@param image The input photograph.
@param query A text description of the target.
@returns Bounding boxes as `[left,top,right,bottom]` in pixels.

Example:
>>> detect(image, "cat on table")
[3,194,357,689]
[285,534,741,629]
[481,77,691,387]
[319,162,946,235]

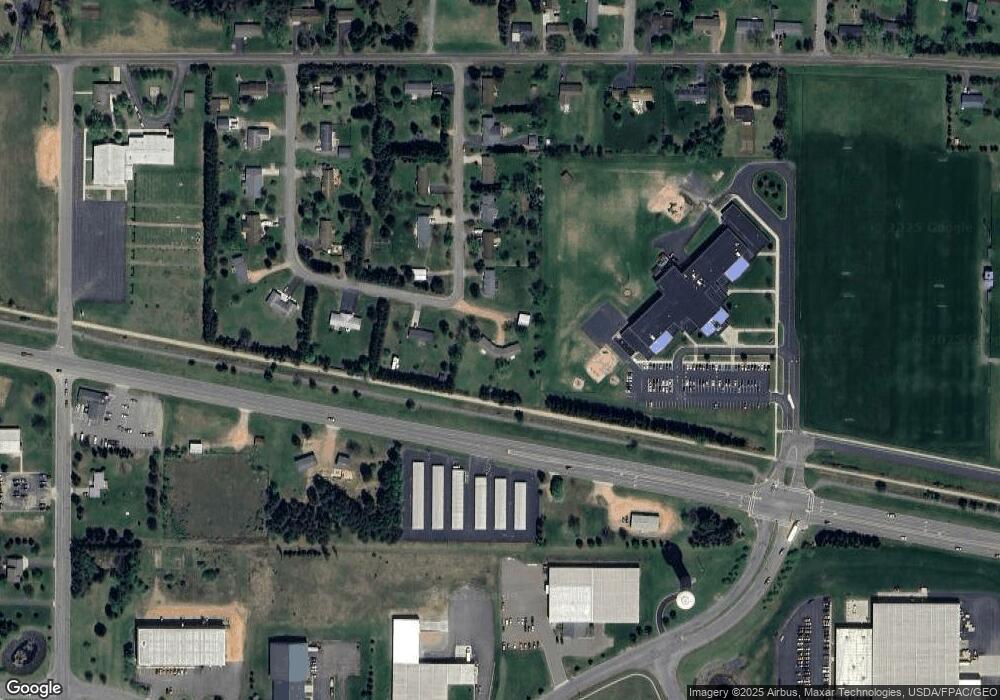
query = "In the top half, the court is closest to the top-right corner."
[652,197,711,268]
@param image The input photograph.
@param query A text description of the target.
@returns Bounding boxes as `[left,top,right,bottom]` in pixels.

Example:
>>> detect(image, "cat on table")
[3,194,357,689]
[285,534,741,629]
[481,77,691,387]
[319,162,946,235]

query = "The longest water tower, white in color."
[678,573,696,610]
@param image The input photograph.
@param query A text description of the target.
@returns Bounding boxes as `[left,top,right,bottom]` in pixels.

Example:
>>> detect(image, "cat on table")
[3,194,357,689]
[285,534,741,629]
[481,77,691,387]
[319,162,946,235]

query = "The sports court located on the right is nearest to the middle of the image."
[582,304,633,370]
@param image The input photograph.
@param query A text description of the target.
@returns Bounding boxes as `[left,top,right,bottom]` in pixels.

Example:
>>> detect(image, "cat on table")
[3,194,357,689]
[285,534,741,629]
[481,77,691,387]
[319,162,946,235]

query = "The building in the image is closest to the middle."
[479,335,522,357]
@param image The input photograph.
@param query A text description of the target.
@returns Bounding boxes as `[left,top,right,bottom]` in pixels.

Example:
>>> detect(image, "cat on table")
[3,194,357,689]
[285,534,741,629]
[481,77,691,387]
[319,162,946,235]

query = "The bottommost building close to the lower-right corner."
[836,599,981,700]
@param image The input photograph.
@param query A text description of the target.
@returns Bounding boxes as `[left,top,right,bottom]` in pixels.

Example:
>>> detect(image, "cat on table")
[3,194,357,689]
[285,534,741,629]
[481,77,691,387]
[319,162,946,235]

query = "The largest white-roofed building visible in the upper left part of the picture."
[94,128,174,185]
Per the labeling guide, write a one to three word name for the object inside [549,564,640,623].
building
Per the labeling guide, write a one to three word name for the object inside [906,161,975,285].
soccer field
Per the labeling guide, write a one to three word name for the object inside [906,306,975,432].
soccer field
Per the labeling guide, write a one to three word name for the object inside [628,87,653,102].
house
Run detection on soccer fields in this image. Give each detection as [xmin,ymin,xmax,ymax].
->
[906,161,975,285]
[812,295,884,420]
[812,148,884,273]
[906,306,975,432]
